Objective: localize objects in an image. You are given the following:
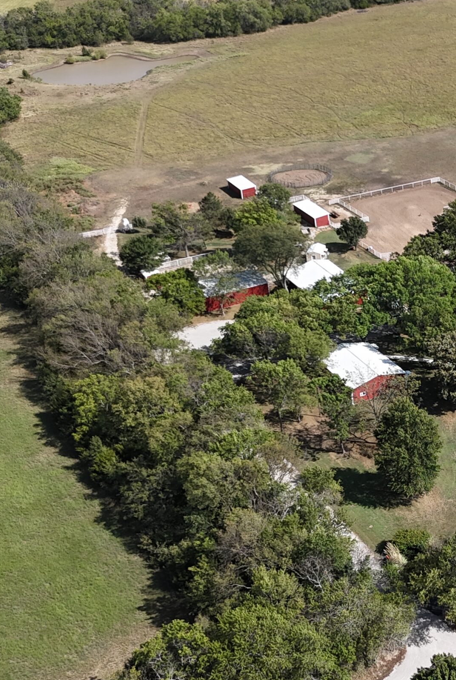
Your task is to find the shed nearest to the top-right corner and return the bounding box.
[296,196,330,227]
